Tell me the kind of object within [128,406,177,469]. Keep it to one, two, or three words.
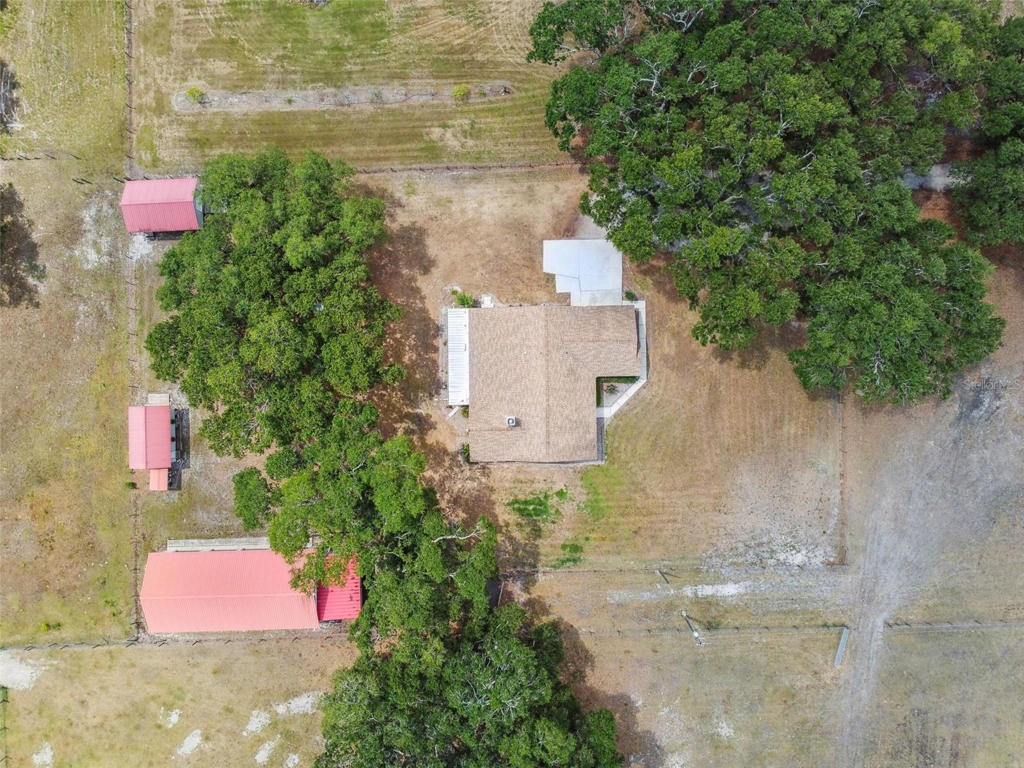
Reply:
shed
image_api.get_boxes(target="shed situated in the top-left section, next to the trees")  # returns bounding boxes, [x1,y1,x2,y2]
[121,178,226,233]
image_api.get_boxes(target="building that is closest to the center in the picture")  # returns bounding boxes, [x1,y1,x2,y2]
[448,305,642,462]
